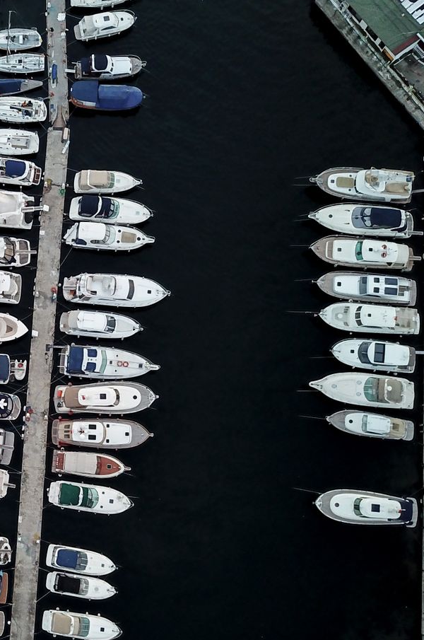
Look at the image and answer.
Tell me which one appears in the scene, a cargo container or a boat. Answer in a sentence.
Looking from above, you can make out a boat.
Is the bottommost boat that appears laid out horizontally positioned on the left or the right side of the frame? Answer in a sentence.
The bottommost boat that appears laid out horizontally appears in the left half of the scene.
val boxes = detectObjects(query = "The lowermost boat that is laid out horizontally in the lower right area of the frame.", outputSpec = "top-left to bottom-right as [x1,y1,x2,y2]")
[297,489,422,536]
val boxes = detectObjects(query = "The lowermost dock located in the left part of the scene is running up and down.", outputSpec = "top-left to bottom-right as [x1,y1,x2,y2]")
[9,129,71,640]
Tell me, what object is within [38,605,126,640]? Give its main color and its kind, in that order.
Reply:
white boat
